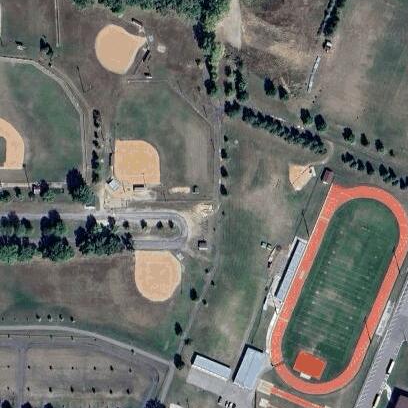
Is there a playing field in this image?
Yes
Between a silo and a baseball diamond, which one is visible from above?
baseball diamond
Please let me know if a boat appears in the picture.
No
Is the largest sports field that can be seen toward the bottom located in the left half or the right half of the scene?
right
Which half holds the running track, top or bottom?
bottom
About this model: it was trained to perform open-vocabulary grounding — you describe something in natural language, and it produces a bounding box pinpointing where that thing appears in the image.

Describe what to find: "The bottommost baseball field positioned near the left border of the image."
[0,68,80,181]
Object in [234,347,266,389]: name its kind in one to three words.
barn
